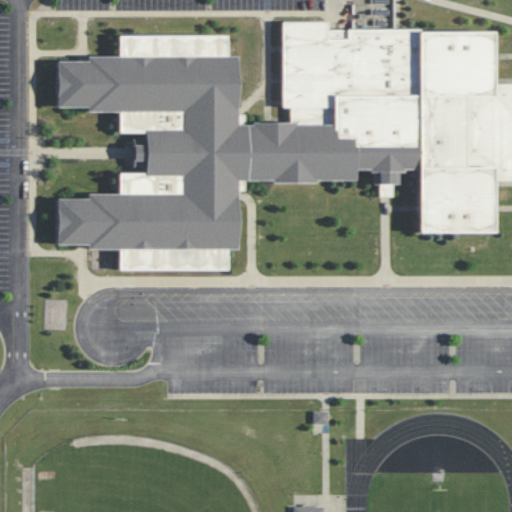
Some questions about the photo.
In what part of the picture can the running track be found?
bottom right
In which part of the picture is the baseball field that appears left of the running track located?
bottom left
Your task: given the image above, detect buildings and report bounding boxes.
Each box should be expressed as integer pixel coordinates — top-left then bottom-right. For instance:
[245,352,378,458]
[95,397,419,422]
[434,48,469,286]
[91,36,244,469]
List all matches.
[58,22,512,272]
[293,507,324,512]
[314,411,329,432]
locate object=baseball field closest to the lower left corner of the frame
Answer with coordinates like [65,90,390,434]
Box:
[23,434,256,512]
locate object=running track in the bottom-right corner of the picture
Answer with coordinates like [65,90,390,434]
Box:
[346,412,512,512]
